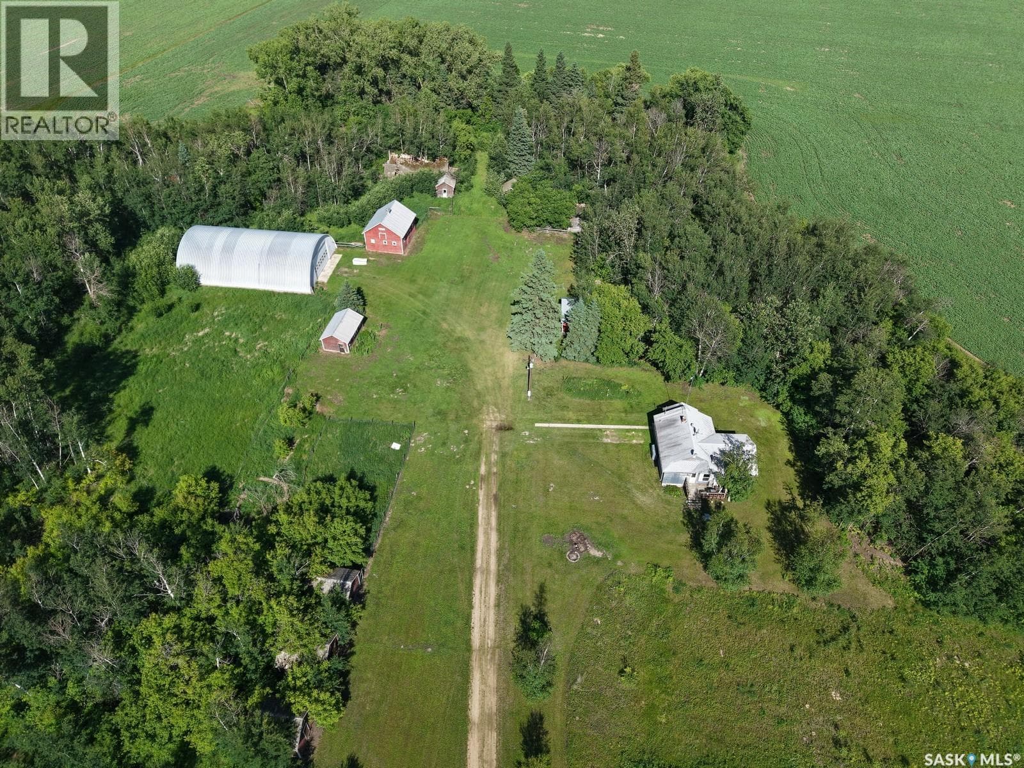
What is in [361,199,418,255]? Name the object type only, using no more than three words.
barn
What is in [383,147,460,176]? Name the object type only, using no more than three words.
barn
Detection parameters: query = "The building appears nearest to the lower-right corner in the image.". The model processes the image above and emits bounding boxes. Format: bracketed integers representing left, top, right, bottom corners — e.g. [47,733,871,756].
[652,401,760,513]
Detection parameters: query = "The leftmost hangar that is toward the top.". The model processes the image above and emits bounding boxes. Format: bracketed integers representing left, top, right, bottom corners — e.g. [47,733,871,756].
[171,219,340,294]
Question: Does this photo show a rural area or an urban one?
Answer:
rural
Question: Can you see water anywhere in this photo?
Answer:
No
